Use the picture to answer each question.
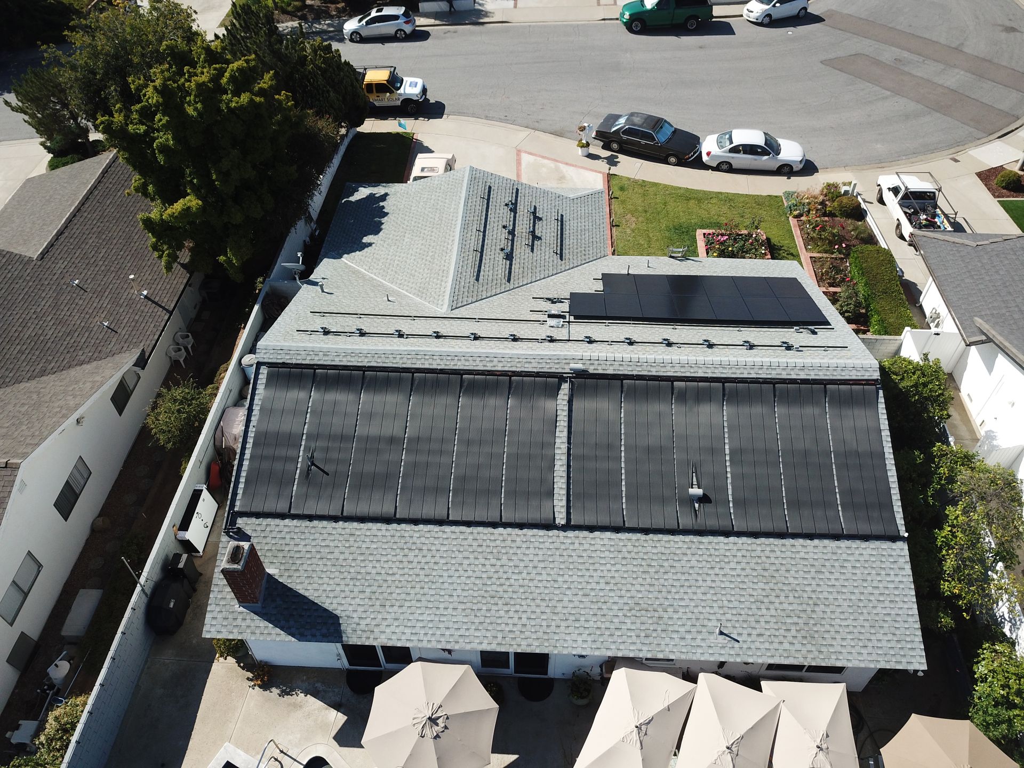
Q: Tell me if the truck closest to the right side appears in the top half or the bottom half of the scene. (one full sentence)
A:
The truck closest to the right side is in the top half of the image.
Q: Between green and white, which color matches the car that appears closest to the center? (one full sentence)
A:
In this view, the car that appears closest to the center is white.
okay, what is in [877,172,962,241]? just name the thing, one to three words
truck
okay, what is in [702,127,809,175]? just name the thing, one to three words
car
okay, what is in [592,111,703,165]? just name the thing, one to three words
car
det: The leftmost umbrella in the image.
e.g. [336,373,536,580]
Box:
[362,662,499,768]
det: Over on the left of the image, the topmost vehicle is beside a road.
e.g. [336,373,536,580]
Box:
[341,6,413,43]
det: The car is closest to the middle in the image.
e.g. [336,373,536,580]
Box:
[410,155,453,183]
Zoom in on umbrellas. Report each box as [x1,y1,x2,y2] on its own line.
[362,662,499,768]
[762,682,861,768]
[675,673,777,768]
[880,713,1016,768]
[573,668,696,768]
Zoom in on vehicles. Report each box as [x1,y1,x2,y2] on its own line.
[744,0,813,25]
[702,127,809,175]
[327,61,430,114]
[877,172,962,241]
[341,6,413,43]
[619,0,718,32]
[410,155,453,183]
[592,111,703,165]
